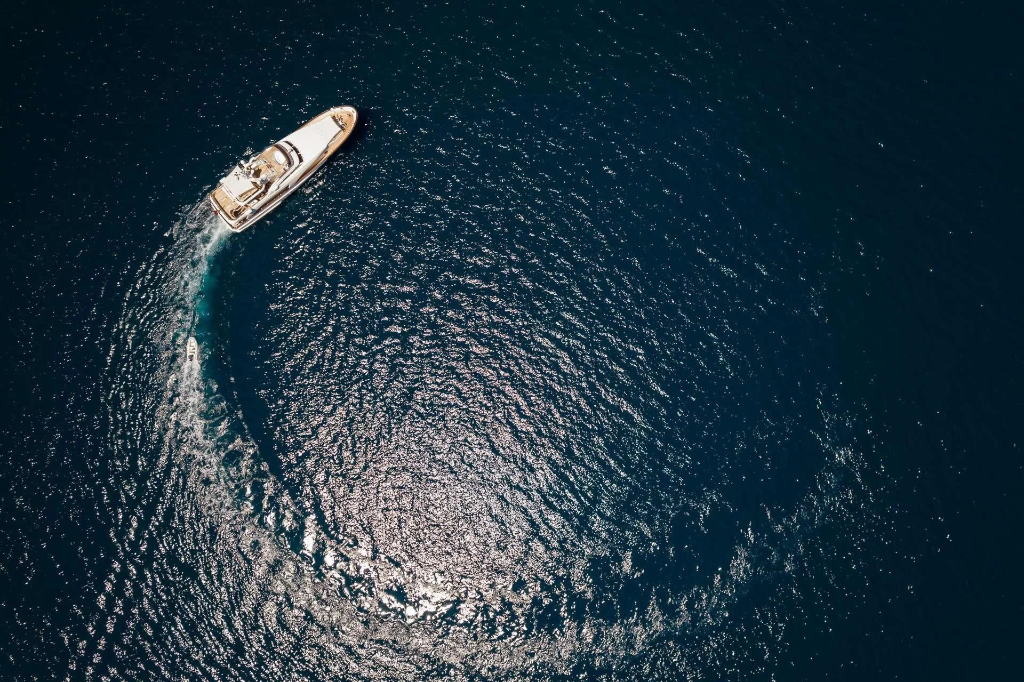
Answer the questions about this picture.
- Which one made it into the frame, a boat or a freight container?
boat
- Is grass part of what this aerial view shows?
No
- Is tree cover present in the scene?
No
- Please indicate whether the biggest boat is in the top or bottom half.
top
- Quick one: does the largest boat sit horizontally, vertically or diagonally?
diagonally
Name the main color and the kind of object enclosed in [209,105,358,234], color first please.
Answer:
white boat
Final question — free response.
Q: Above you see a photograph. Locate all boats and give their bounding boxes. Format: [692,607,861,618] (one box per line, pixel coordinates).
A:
[209,105,358,234]
[187,336,197,363]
